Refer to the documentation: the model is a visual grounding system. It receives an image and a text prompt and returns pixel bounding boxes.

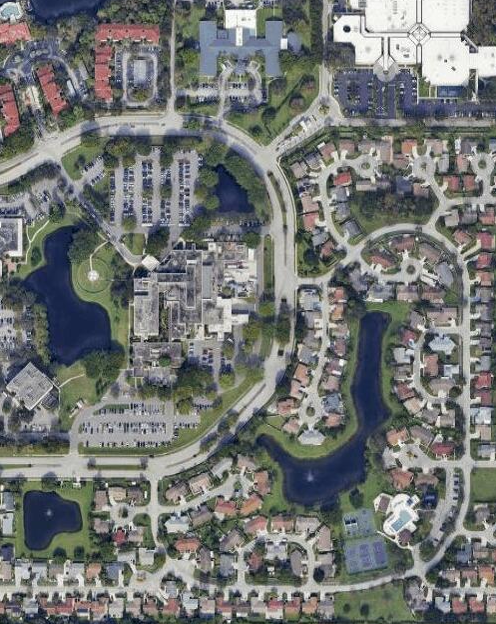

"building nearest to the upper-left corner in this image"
[0,22,29,43]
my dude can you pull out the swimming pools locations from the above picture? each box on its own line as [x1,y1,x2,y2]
[375,494,420,536]
[0,2,21,21]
